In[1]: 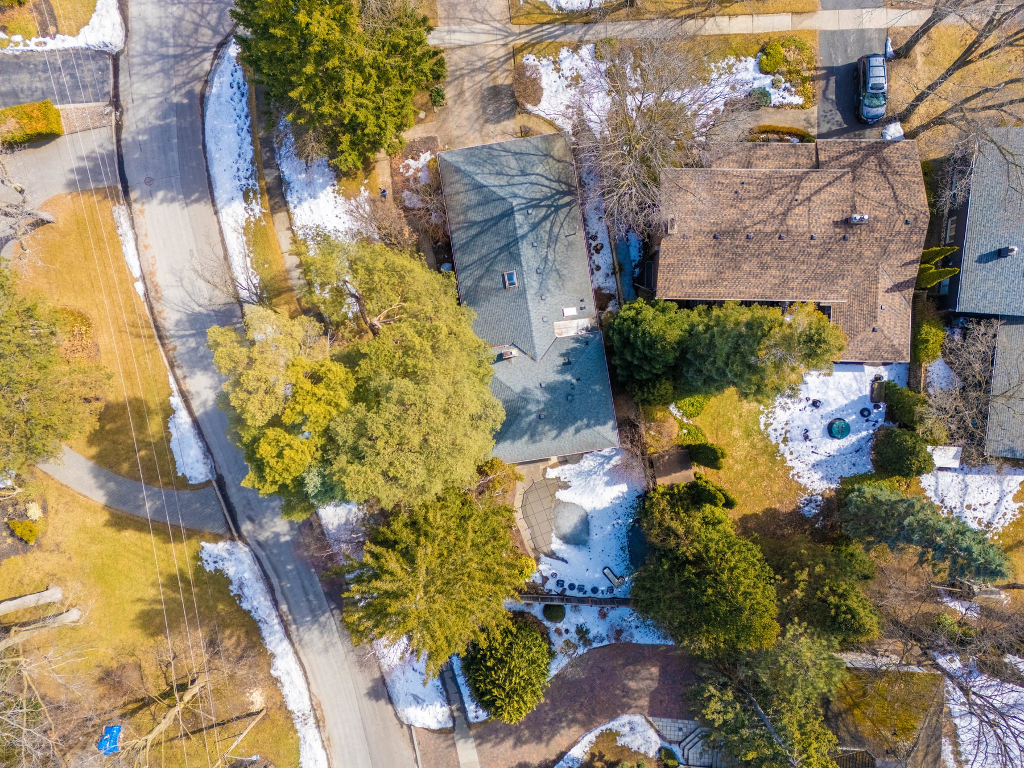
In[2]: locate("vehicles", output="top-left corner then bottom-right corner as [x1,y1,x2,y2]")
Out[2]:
[853,53,889,124]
